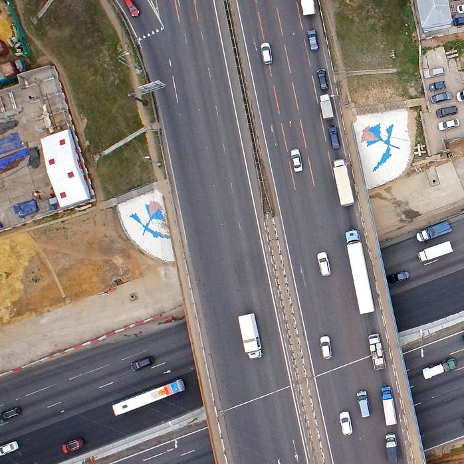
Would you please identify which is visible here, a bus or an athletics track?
bus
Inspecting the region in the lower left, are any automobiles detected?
Yes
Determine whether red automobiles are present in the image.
Yes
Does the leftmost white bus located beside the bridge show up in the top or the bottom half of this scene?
bottom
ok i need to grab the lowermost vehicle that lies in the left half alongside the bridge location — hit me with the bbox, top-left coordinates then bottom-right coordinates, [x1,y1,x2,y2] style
[111,375,191,417]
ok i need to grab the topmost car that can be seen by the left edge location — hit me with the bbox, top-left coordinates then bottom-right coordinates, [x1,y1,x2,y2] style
[0,406,24,422]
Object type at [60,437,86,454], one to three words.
car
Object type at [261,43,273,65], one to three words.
vehicle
